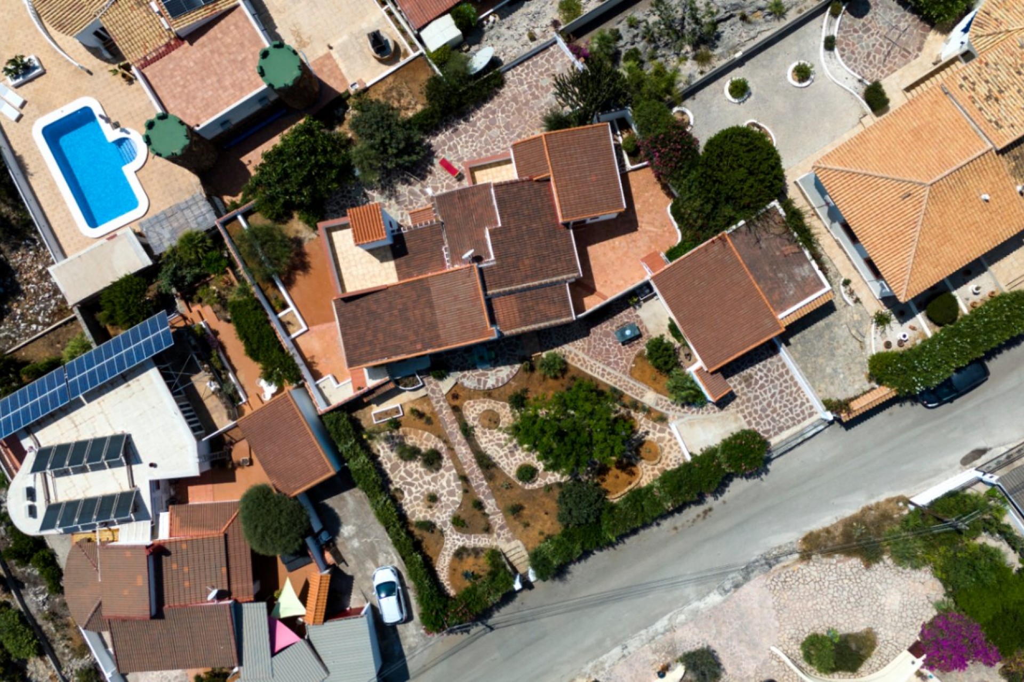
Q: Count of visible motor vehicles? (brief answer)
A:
2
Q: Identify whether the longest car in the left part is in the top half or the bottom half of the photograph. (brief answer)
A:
bottom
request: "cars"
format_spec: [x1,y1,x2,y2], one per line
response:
[915,362,992,410]
[373,562,412,628]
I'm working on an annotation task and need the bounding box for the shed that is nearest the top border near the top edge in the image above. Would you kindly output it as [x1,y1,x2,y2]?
[404,0,465,39]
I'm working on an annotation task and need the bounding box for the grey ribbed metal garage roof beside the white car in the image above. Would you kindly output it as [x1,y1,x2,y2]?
[308,600,385,682]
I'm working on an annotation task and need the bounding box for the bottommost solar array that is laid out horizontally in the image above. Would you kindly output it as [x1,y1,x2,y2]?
[40,489,139,532]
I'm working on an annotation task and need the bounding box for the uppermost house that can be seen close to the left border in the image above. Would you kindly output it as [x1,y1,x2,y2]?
[32,0,281,138]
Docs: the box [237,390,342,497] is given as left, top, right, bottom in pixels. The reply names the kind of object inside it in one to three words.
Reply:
house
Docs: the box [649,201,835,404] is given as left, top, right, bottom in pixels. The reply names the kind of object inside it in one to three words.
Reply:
building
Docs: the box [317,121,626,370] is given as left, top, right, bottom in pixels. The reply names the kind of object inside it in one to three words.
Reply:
house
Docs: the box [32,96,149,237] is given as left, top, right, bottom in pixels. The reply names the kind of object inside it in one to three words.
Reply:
swimming pool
